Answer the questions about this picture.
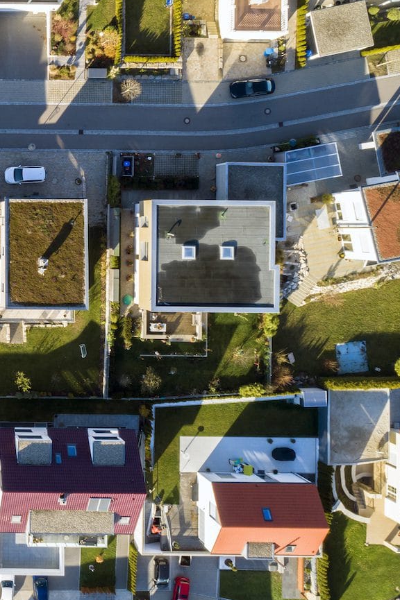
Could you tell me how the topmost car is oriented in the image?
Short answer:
from side to side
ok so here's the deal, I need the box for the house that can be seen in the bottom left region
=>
[0,421,147,576]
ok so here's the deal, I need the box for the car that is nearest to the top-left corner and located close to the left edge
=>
[4,164,48,184]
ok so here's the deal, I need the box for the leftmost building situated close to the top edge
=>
[209,0,289,45]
